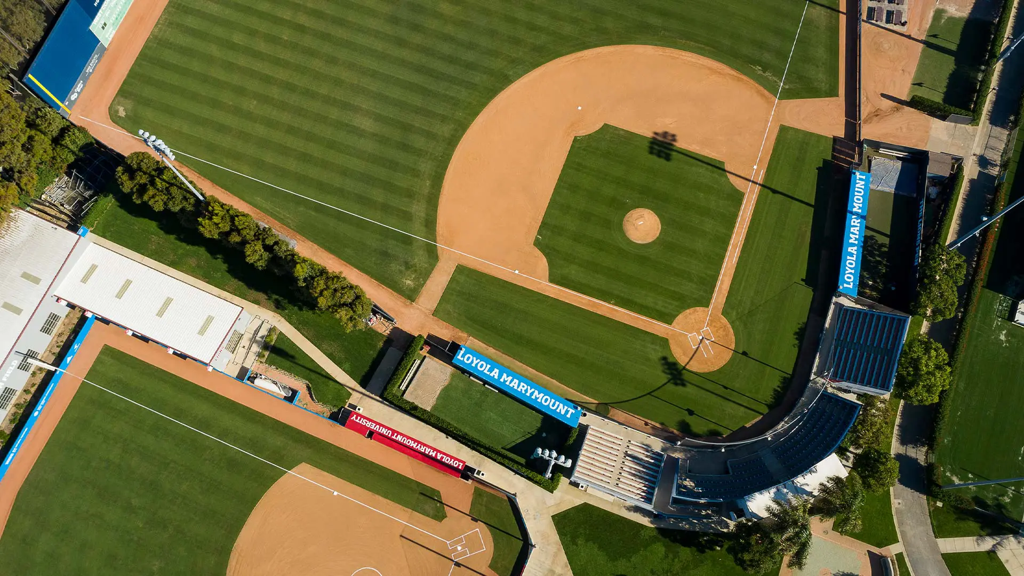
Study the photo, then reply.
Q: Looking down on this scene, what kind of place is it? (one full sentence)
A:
What you see here is a sports ground.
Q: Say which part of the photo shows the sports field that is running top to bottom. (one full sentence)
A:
The sports field that is running top to bottom is in the right part of the image.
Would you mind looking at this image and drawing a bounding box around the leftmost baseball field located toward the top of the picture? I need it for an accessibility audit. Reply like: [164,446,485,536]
[67,0,860,447]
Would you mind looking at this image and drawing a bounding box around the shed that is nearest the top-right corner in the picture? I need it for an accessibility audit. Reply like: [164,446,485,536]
[920,152,952,183]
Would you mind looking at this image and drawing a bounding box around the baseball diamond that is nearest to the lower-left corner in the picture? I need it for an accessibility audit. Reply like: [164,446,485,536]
[0,322,533,576]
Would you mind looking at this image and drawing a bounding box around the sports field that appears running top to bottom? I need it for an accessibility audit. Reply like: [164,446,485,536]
[940,126,1024,522]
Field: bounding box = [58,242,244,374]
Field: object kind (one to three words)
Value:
building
